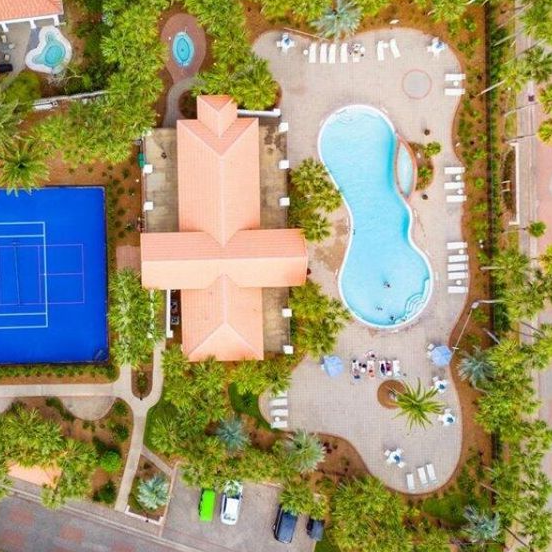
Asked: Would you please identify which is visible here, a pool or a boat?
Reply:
pool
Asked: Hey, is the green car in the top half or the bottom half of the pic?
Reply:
bottom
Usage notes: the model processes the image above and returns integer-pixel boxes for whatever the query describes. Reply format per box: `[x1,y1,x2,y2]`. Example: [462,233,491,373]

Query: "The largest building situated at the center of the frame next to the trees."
[140,95,313,361]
